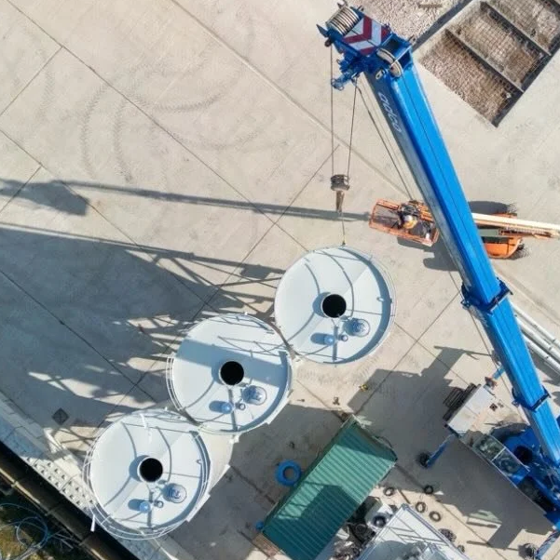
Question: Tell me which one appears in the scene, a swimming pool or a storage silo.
storage silo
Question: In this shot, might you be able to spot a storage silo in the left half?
Yes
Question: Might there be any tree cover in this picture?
No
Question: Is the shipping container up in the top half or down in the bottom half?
bottom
